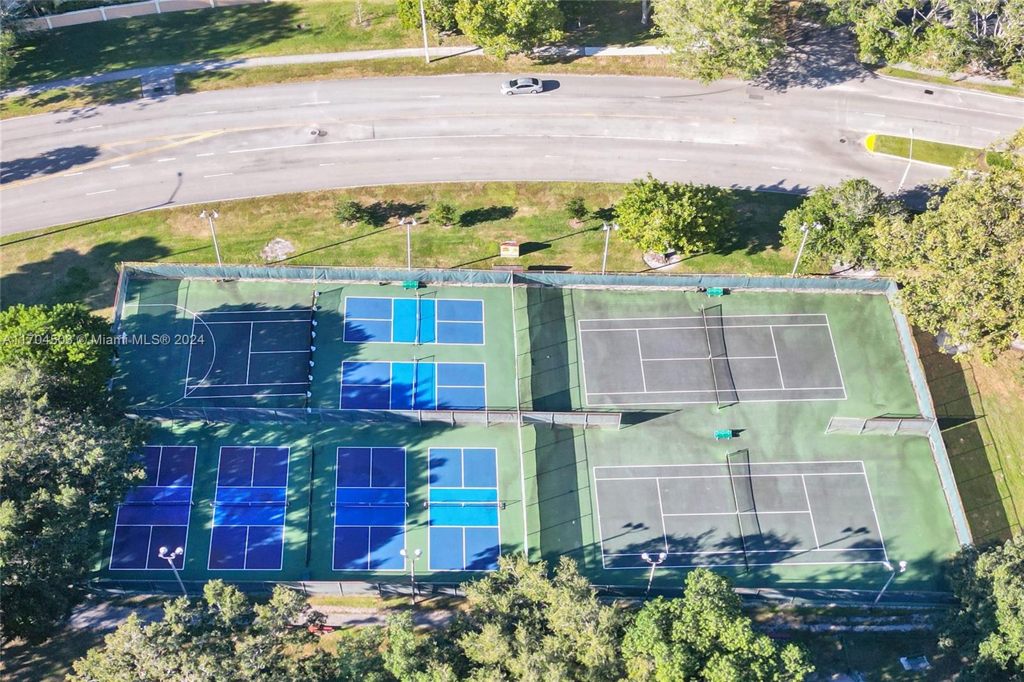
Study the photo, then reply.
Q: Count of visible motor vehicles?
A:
1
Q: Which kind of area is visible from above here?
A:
sports ground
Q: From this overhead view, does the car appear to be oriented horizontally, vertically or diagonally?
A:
horizontally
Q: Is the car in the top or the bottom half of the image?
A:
top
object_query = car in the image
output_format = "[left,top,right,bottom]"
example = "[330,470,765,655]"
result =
[499,75,543,95]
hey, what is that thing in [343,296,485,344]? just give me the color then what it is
blue sports court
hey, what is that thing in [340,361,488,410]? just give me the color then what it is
blue sports court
